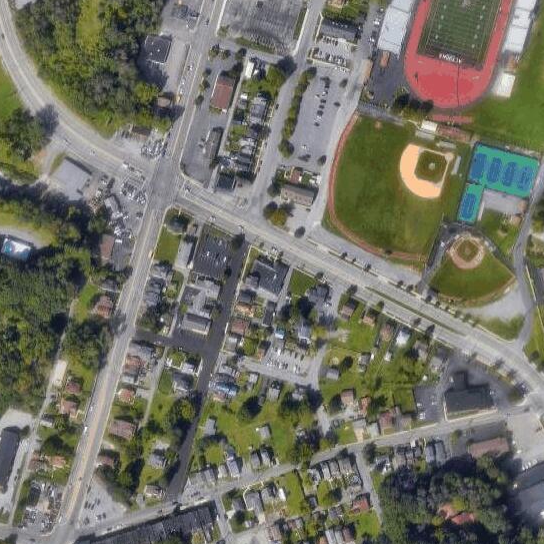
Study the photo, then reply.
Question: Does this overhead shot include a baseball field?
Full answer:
Yes, the photo shows a baseball field.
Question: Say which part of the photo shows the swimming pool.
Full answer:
The swimming pool sits in the left section of the image.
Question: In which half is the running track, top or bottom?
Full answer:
The running track sits in the top half of the picture.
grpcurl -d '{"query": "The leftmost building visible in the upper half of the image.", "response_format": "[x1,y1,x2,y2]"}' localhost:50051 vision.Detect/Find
[48,157,91,200]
